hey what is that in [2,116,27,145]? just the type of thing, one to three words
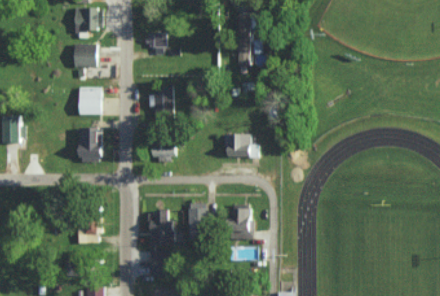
house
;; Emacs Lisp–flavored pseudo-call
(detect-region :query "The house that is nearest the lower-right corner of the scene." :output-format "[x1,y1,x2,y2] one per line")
[228,206,256,240]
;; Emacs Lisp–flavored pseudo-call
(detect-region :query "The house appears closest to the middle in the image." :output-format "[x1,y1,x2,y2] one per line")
[224,134,260,159]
